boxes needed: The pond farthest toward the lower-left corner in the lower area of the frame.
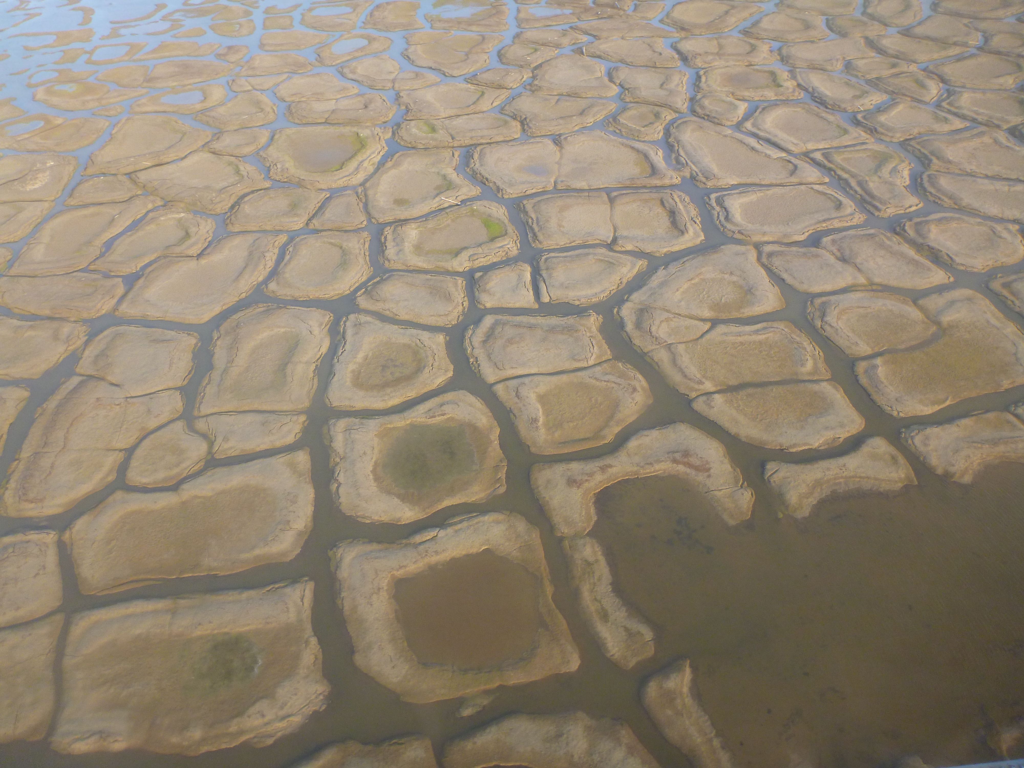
[402,556,549,668]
